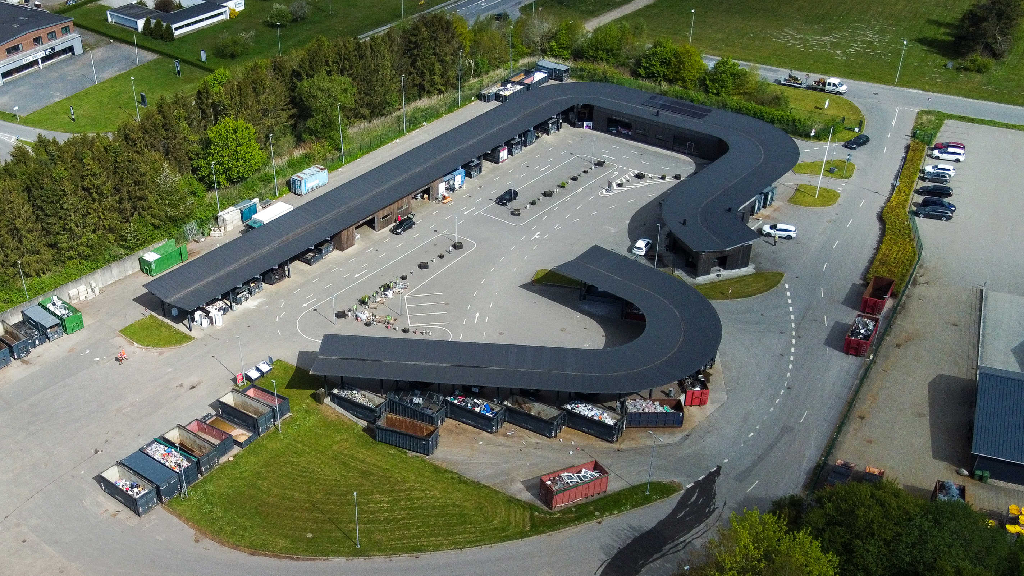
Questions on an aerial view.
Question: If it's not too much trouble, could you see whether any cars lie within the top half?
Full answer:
Yes, a car shows up within the top half.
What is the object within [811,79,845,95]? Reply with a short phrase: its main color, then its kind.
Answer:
white vehicle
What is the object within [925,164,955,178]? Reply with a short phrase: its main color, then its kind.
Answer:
white car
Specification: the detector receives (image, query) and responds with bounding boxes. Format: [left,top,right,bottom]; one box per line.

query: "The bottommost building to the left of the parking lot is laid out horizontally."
[143,78,799,331]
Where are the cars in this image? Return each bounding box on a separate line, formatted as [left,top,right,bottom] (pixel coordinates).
[917,207,950,221]
[764,224,795,240]
[924,199,956,213]
[925,172,949,185]
[921,186,952,200]
[632,238,651,255]
[936,140,964,151]
[391,211,417,234]
[497,189,520,205]
[933,148,962,162]
[925,164,955,178]
[847,134,870,149]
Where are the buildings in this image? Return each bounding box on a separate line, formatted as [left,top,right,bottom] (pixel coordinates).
[968,290,1024,483]
[107,0,246,39]
[143,78,799,331]
[0,0,83,84]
